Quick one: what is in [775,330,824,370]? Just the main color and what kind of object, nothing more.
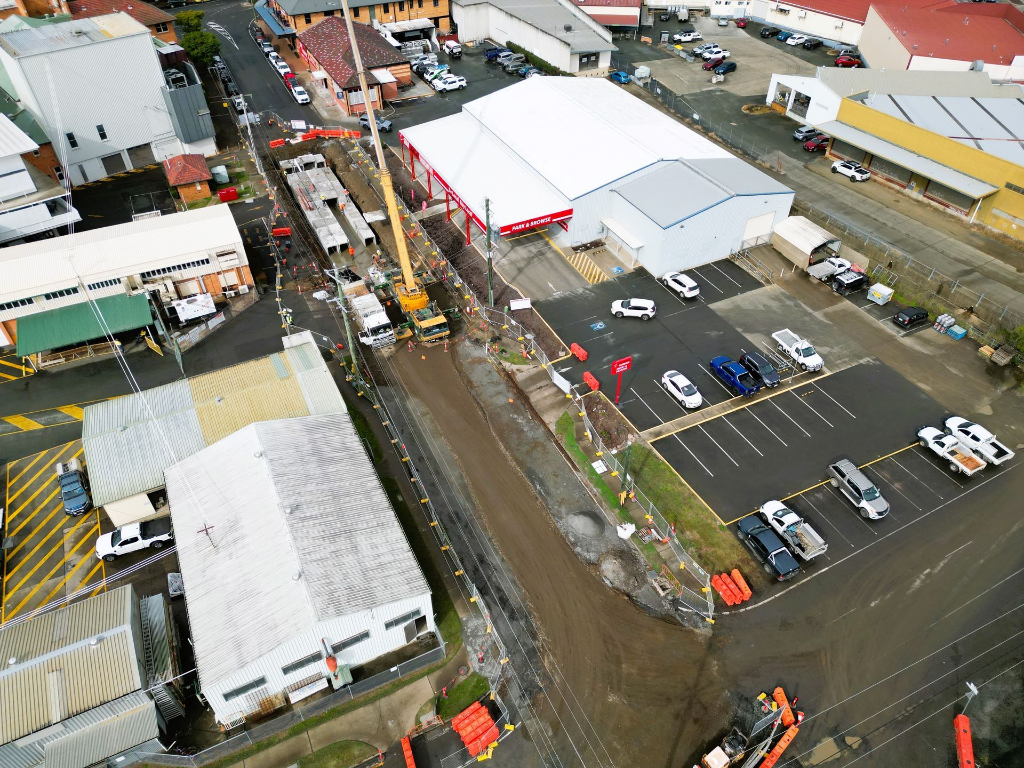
white truck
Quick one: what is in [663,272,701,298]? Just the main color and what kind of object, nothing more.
white car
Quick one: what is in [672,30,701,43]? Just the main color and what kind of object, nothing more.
white vehicle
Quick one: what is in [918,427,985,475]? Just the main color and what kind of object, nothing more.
white truck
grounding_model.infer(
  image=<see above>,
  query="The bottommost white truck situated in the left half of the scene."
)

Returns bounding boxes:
[96,519,172,561]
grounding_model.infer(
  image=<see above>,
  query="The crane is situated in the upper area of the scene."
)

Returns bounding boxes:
[333,0,459,347]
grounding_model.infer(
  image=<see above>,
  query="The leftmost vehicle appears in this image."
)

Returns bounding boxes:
[50,459,89,514]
